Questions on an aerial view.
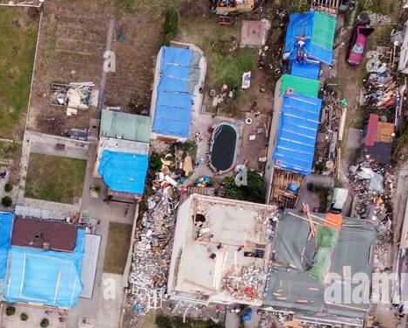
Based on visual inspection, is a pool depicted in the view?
Yes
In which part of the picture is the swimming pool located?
center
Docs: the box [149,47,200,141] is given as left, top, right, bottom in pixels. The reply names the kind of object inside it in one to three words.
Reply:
shed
